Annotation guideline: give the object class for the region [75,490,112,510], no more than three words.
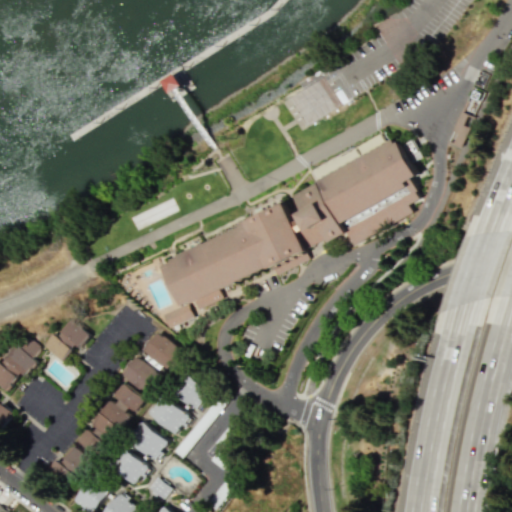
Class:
house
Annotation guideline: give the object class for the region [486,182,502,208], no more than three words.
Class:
vehicle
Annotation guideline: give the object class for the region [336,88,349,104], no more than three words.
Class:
vehicle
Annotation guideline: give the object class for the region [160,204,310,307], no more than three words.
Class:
building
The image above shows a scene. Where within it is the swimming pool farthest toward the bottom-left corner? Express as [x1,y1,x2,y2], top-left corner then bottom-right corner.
[44,354,80,392]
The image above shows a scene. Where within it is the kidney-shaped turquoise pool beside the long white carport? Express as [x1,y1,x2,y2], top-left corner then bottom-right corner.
[162,458,206,497]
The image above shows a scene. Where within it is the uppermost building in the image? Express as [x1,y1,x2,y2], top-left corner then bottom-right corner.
[161,75,189,102]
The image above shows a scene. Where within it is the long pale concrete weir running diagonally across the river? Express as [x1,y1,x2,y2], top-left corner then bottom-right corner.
[71,0,291,139]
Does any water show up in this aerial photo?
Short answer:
Yes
